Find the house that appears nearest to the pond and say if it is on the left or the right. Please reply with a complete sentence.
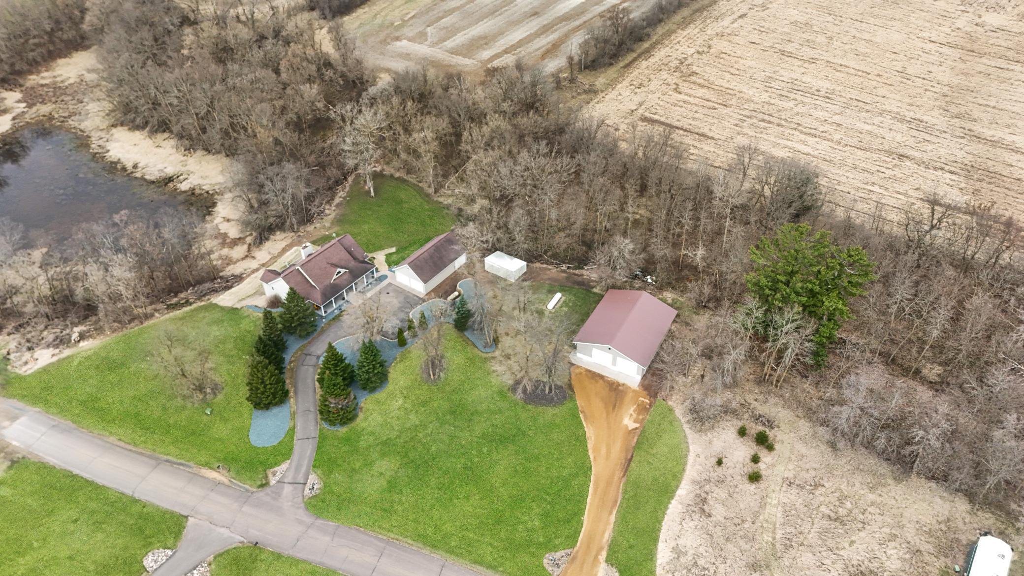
The house that appears nearest to the pond appears in the left half of the scene.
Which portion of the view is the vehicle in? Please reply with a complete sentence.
The vehicle is in the bottom right part of the image.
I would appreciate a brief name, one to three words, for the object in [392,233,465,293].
building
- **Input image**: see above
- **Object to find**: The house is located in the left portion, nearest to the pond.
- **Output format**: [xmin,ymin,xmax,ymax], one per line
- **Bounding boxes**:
[258,234,378,317]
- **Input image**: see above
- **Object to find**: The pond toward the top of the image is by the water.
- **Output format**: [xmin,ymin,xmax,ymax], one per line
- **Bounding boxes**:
[0,122,223,254]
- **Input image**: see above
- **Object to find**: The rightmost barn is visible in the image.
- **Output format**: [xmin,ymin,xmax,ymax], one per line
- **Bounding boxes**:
[569,289,678,387]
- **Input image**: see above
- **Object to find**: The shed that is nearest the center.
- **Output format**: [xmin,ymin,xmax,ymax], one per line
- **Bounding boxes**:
[484,250,526,282]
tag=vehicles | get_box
[966,535,1013,576]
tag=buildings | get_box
[392,233,465,293]
[258,234,378,317]
[484,250,526,282]
[569,289,678,387]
